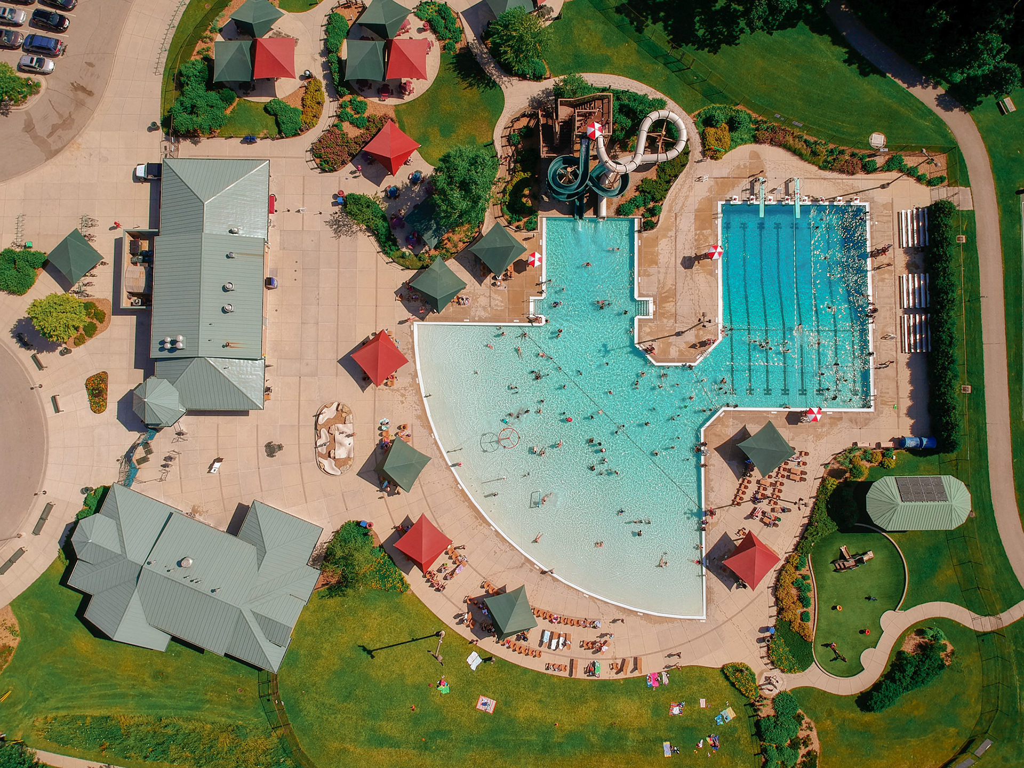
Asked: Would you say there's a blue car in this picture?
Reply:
Yes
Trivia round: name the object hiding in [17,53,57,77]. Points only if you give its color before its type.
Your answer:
gray car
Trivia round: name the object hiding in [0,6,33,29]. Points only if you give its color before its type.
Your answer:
gray car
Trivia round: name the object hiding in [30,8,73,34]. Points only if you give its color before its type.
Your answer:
black car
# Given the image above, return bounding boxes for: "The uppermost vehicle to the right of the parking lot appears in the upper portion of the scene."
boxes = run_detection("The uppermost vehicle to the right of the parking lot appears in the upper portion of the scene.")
[132,162,163,181]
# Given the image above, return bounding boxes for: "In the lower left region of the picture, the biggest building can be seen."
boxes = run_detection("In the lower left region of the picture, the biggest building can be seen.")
[67,483,323,674]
